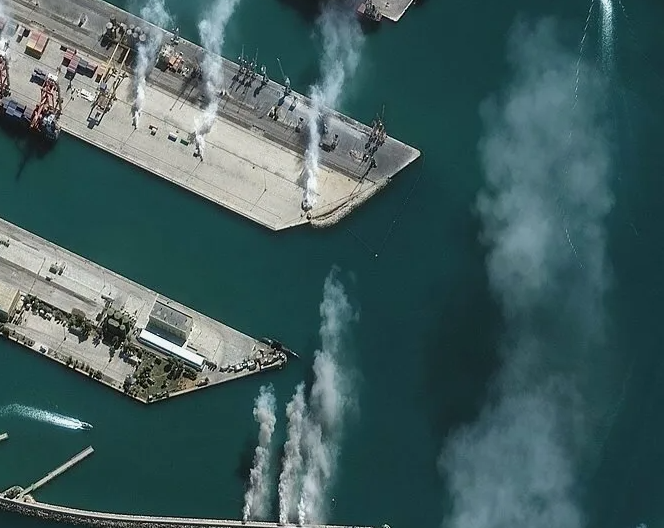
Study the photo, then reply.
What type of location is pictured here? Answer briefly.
port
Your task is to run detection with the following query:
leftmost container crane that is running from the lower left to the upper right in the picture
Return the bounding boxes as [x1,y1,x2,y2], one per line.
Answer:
[21,74,62,134]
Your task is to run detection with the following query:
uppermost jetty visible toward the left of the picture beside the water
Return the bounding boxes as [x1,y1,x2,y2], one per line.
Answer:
[0,0,420,231]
